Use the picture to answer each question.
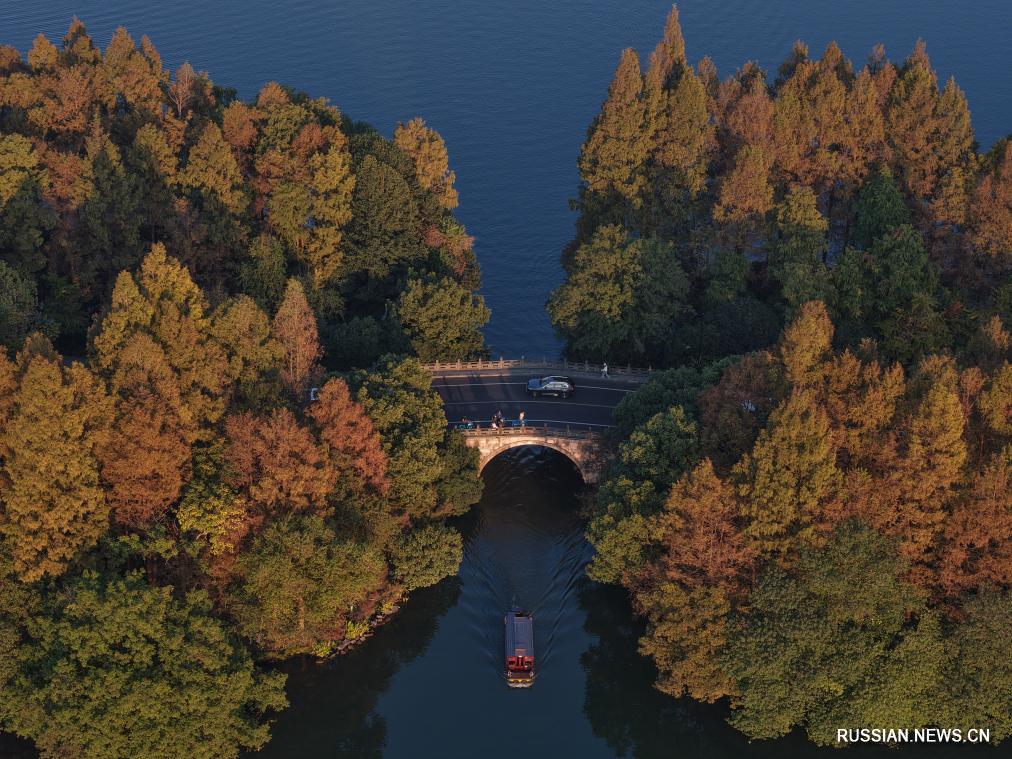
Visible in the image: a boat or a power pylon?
boat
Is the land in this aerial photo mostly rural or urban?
rural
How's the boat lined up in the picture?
from top to bottom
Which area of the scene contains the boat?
bottom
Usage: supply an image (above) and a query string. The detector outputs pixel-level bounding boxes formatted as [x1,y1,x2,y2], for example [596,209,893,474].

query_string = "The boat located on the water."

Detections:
[504,606,532,687]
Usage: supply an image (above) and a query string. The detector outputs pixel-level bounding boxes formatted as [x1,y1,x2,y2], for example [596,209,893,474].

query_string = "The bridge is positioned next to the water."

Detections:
[366,355,703,480]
